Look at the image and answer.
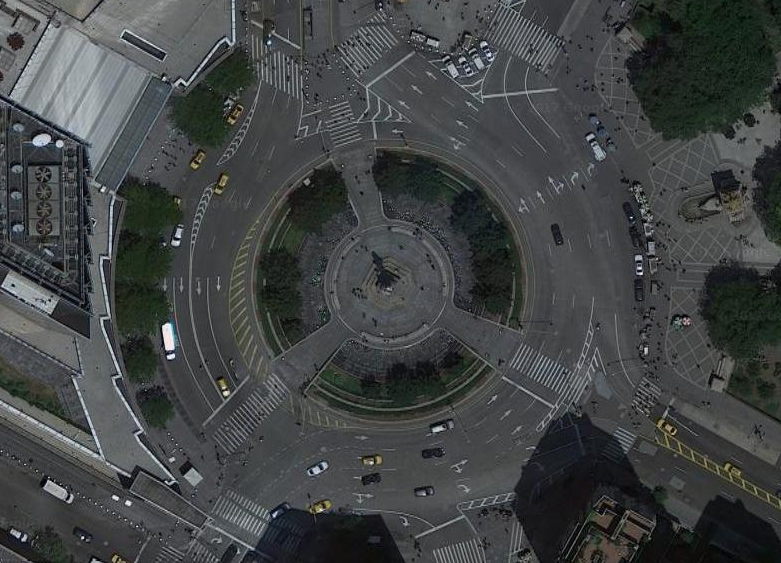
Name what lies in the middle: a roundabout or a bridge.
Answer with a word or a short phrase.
roundabout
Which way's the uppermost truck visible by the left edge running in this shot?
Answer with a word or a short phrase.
diagonally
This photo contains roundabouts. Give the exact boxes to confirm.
[182,77,599,493]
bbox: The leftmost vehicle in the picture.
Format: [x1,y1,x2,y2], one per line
[7,526,30,545]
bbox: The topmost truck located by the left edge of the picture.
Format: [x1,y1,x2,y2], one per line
[37,474,76,507]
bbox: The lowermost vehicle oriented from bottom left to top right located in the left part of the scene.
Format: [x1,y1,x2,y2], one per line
[219,540,241,563]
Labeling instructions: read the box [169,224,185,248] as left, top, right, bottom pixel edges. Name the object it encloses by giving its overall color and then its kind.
white car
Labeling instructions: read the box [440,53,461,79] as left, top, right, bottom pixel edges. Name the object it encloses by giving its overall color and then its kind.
white vehicle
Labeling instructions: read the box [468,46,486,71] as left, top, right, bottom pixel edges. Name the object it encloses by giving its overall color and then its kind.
white vehicle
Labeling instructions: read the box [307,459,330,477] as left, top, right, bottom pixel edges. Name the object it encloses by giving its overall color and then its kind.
white car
